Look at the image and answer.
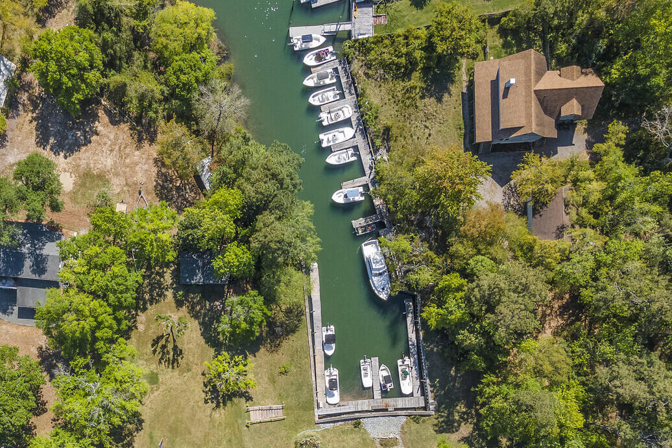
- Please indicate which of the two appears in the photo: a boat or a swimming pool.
boat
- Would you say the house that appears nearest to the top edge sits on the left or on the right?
right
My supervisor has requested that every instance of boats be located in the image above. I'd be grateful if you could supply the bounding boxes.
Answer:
[359,352,378,388]
[308,87,344,103]
[324,361,341,405]
[332,184,372,203]
[303,69,341,86]
[325,149,360,164]
[397,351,414,395]
[314,106,354,130]
[323,318,339,356]
[286,32,326,56]
[348,223,377,236]
[313,129,356,150]
[380,365,394,391]
[303,46,341,65]
[361,235,390,301]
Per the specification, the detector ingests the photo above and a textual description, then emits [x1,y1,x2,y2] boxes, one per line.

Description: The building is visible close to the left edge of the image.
[0,224,78,310]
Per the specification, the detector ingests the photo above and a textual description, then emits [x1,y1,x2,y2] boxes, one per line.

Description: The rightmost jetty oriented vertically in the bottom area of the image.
[400,297,422,396]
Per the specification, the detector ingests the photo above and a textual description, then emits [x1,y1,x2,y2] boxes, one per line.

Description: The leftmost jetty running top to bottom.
[310,266,326,404]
